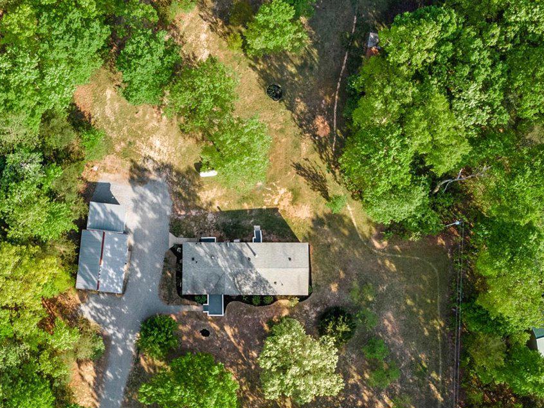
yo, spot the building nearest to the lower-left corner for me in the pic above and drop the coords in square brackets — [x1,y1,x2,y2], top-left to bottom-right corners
[75,229,129,294]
